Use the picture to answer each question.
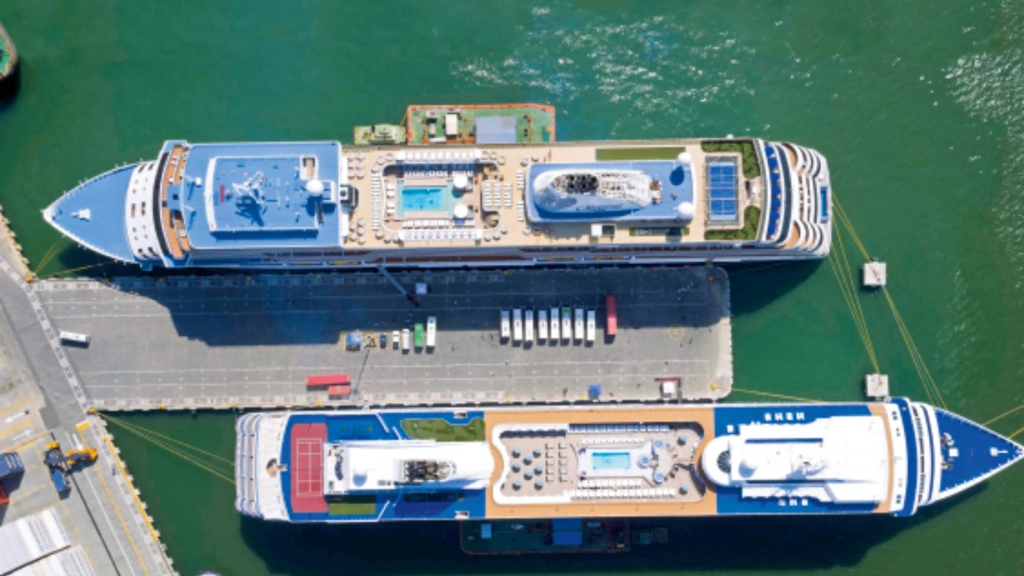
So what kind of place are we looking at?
port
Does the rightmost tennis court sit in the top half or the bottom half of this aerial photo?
top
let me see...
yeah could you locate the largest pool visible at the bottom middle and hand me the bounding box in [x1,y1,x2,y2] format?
[592,451,631,471]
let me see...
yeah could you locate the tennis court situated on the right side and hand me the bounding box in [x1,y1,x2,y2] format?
[706,152,744,225]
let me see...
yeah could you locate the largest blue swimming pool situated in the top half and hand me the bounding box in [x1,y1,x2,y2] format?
[401,186,445,212]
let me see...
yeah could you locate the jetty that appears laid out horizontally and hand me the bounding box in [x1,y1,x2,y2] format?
[32,265,735,413]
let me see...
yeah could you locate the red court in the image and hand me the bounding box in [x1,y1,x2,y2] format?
[292,423,328,513]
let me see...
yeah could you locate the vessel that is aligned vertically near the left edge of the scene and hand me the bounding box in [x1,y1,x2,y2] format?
[0,33,24,87]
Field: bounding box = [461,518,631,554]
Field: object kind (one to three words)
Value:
ship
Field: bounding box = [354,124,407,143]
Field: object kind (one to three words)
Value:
boat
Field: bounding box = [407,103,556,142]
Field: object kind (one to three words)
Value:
ship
